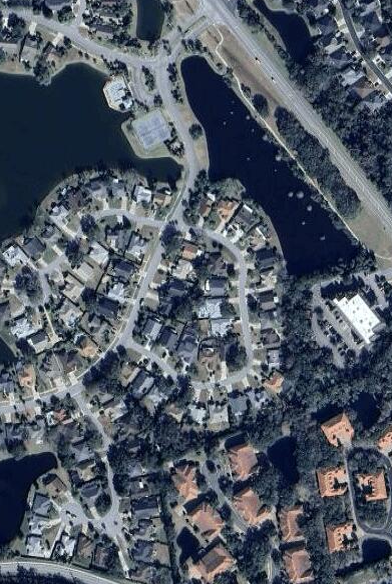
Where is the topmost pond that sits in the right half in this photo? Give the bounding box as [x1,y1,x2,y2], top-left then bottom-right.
[254,0,313,66]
